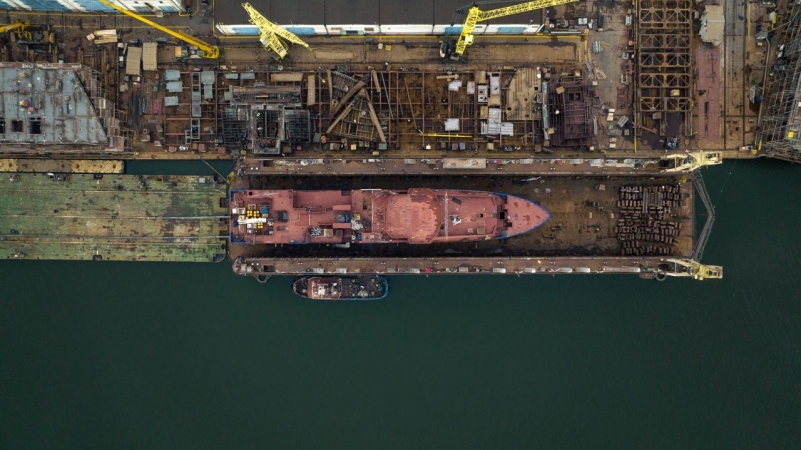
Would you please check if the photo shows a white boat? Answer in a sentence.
No, the frame has no white boat in it.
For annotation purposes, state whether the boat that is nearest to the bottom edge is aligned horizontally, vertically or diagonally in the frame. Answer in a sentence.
From this overhead view, the boat that is nearest to the bottom edge appears to run horizontally.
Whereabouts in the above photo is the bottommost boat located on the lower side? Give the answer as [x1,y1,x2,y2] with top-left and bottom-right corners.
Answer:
[293,275,389,301]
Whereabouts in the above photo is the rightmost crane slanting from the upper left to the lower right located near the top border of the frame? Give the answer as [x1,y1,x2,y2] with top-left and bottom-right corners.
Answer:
[238,0,312,67]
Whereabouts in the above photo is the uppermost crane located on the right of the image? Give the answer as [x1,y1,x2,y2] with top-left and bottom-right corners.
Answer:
[440,0,586,64]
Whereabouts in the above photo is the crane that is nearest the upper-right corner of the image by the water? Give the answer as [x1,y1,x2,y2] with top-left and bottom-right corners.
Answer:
[657,149,724,172]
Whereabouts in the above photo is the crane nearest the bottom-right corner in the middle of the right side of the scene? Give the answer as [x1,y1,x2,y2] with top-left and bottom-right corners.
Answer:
[657,256,724,280]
